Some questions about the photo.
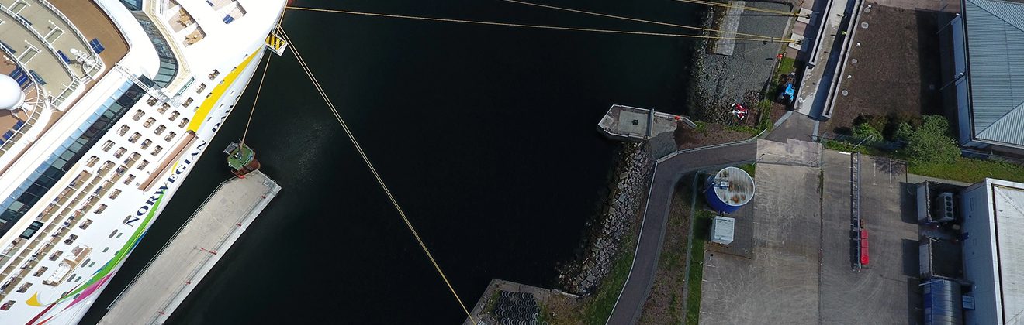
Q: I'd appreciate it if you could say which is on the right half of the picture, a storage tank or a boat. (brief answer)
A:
storage tank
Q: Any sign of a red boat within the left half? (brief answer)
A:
No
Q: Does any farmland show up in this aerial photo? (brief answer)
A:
No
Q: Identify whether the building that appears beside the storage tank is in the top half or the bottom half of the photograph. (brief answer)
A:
bottom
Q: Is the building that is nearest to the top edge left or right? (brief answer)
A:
right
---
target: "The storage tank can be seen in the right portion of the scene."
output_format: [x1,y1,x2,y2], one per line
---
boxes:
[701,167,754,217]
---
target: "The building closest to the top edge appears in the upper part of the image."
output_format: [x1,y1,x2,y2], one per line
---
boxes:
[945,0,1024,162]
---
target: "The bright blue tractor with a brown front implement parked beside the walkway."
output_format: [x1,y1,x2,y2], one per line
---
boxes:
[778,71,801,103]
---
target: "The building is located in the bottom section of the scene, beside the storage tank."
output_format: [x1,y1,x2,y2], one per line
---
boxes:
[711,218,735,244]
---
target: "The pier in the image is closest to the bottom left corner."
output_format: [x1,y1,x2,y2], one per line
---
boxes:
[89,169,280,325]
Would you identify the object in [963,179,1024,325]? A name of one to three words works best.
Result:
building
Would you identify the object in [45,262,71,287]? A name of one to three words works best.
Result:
boat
